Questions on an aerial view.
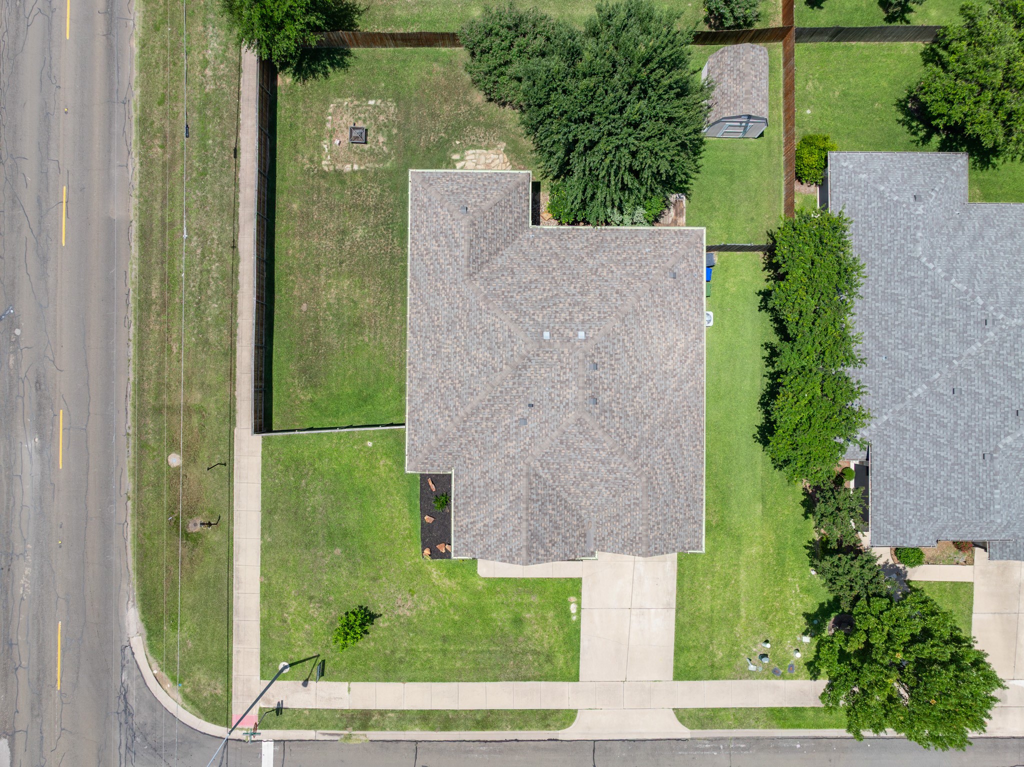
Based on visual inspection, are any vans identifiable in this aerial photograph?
No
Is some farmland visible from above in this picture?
No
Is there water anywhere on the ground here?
No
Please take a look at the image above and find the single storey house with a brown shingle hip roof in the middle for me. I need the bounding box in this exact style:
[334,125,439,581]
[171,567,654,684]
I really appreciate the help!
[406,167,708,566]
